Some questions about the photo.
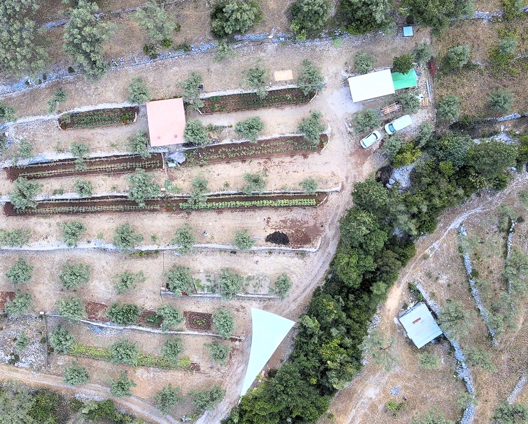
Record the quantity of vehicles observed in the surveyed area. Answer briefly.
2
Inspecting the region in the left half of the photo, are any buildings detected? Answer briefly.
Yes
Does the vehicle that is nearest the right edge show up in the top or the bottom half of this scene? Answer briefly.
top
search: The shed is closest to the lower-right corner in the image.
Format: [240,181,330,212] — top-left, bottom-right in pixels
[397,302,442,348]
